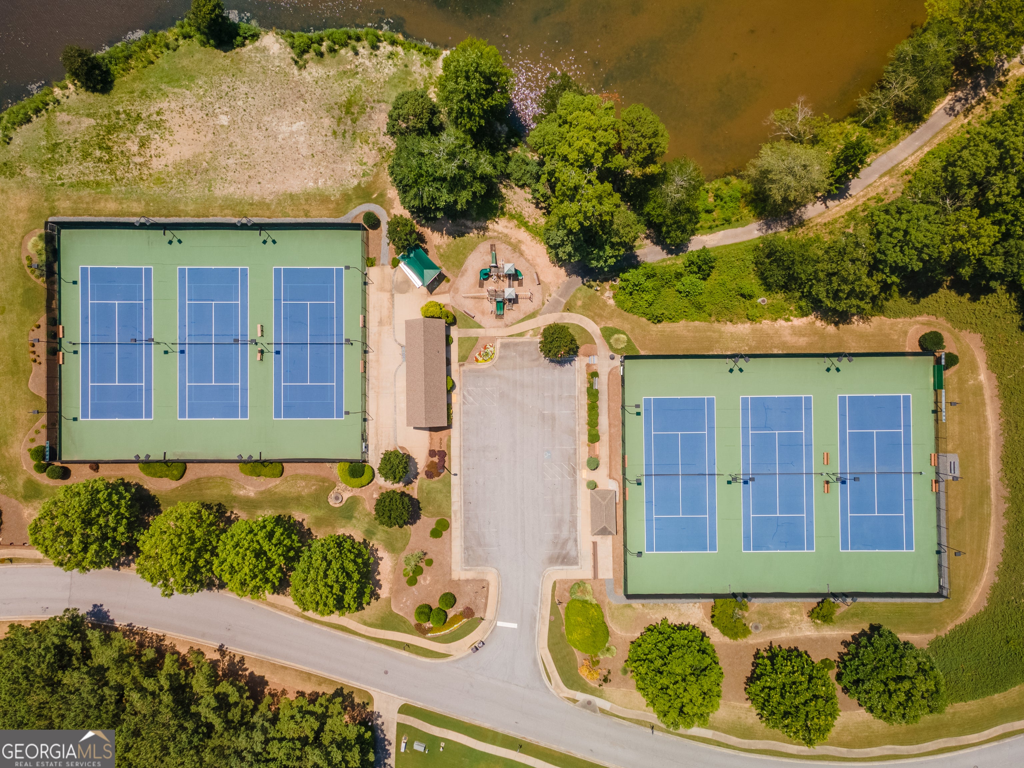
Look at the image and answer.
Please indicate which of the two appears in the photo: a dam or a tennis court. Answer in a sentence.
I can see a tennis court in this picture.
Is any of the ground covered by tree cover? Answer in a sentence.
Yes, there's tree cover in this view.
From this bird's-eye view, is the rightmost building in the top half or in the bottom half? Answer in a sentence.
It is in the bottom half that the rightmost building appears.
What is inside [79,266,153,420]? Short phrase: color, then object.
blue tennis court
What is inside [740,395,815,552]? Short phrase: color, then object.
blue tennis court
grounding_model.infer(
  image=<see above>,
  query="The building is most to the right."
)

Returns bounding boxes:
[589,488,617,536]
